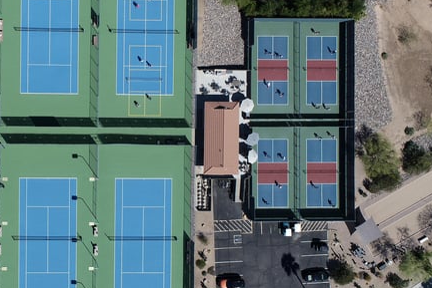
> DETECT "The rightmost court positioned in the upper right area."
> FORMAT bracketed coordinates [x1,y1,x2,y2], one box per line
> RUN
[292,22,346,119]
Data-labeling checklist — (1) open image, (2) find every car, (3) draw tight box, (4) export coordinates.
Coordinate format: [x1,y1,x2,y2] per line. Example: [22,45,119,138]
[302,268,327,281]
[218,277,243,288]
